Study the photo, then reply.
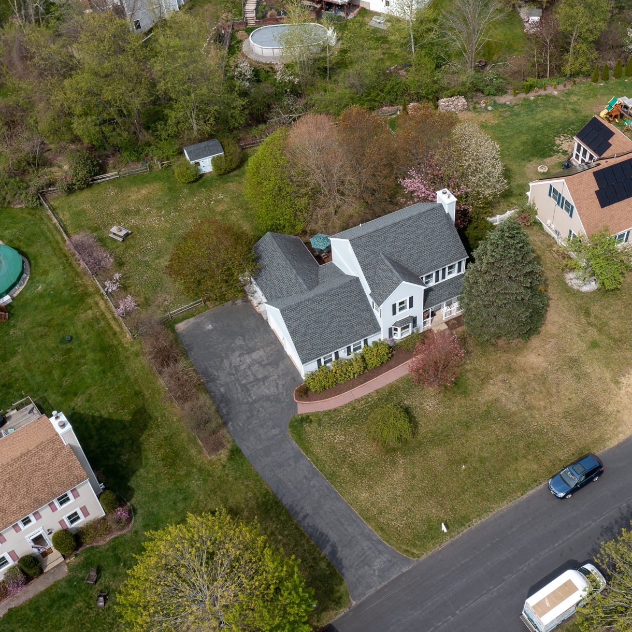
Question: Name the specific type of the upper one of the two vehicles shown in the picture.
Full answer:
The upper one of the two vehicles appears to be a car.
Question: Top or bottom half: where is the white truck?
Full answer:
It is in the bottom half that the white truck appears.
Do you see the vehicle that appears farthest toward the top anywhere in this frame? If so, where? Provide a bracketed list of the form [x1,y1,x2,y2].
[547,451,607,498]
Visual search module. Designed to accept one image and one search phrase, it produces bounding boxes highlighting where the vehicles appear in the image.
[547,451,607,498]
[516,563,609,632]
